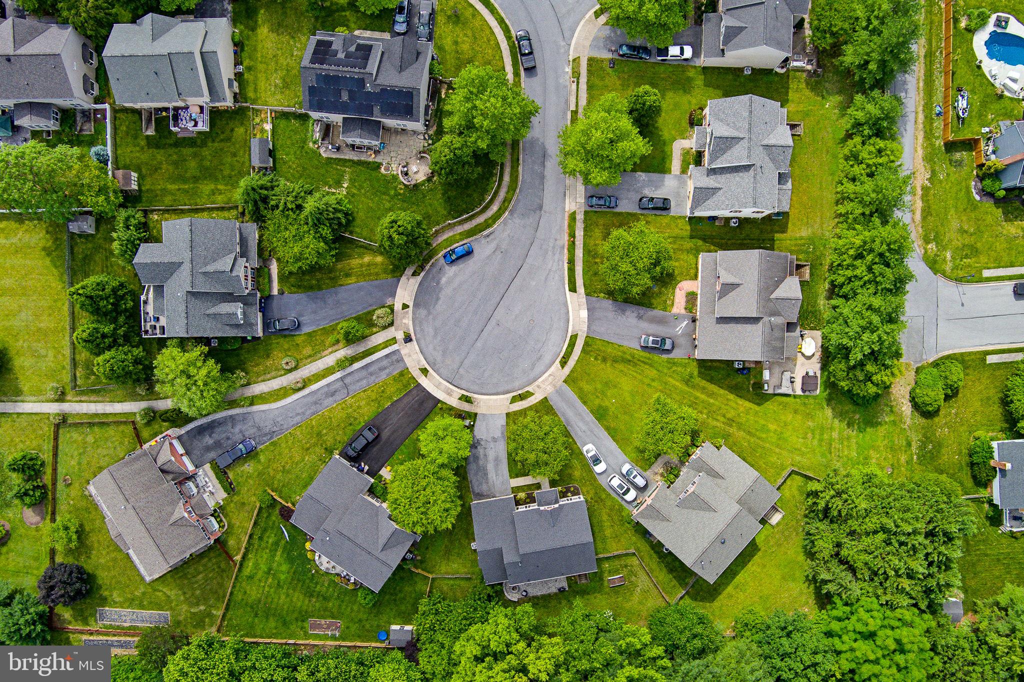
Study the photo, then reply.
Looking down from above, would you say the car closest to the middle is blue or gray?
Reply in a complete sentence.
From above, the car closest to the middle appears blue.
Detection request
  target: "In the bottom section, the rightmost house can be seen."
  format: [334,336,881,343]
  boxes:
[986,440,1024,510]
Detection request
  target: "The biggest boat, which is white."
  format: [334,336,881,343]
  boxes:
[953,93,969,124]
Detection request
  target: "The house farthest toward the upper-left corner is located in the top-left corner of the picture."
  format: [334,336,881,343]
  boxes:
[0,15,102,128]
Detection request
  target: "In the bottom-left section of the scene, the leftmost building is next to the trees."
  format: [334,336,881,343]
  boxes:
[90,434,226,583]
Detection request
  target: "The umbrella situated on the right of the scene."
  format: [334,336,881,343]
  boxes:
[799,337,817,356]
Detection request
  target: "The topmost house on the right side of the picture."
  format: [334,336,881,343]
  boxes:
[700,0,812,64]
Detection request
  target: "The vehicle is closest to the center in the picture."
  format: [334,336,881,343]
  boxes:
[442,242,475,265]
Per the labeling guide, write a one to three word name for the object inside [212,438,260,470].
truck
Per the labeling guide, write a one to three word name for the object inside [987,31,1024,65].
swimming pool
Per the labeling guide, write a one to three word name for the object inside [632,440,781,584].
house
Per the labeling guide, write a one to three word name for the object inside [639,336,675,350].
car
